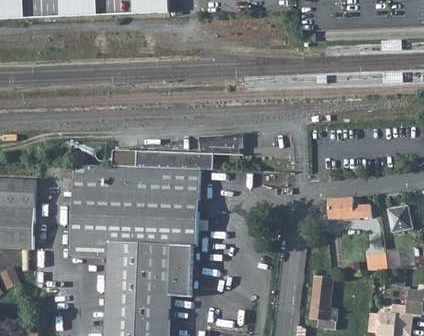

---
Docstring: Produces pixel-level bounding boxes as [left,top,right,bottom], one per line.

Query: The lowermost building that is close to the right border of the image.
[368,304,412,336]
